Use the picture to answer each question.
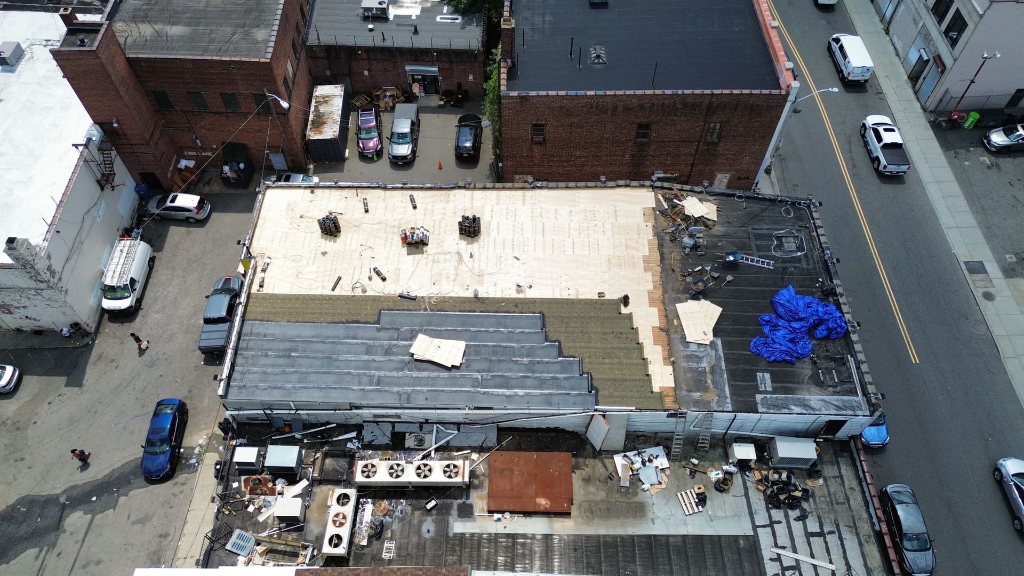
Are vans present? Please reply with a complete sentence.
Yes, there's a van here.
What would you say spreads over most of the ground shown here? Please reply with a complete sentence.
The largest share of the image is taken up by buildings.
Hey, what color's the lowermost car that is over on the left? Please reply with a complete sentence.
The color of the lowermost car that is over on the left is blue.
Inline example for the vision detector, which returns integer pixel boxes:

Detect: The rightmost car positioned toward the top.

[979,127,1024,156]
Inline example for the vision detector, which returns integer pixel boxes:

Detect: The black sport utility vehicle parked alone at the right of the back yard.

[454,118,483,165]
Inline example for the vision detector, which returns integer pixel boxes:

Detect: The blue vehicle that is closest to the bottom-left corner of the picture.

[138,397,191,483]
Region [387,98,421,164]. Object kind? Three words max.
truck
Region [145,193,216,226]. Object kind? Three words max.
car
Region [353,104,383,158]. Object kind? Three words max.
car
